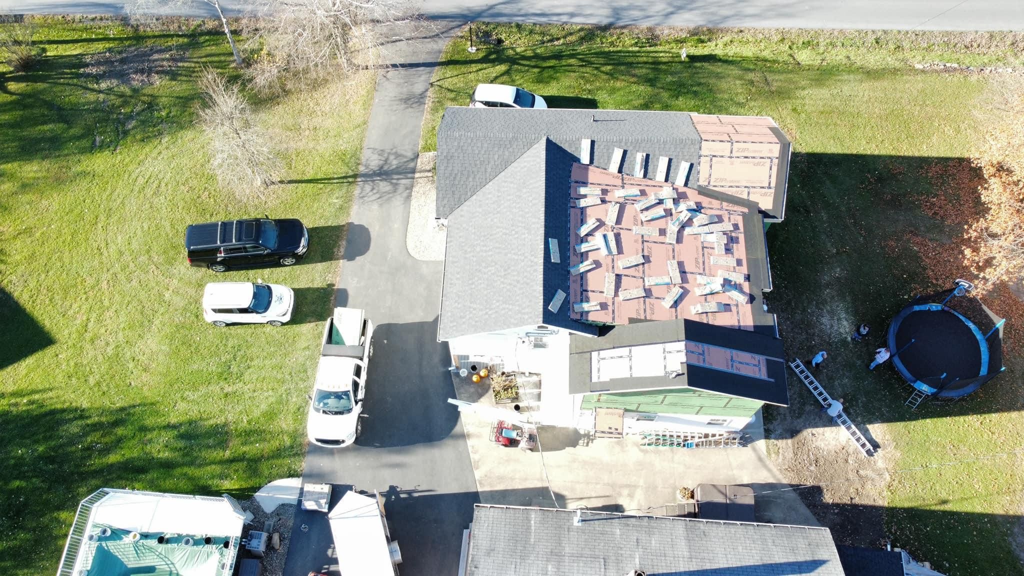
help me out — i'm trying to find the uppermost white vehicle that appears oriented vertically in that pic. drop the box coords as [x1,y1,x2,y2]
[306,315,377,450]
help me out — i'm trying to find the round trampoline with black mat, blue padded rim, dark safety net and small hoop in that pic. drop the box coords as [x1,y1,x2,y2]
[876,273,1013,411]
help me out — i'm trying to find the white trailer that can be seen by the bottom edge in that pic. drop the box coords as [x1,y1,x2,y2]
[327,469,413,576]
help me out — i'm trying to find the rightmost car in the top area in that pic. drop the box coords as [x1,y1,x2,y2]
[467,77,549,109]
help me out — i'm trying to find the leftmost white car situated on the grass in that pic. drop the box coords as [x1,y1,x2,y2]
[197,276,296,328]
